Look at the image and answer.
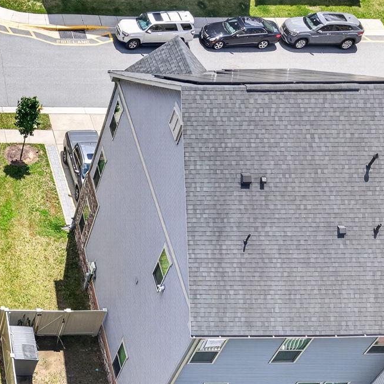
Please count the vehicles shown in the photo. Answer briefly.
four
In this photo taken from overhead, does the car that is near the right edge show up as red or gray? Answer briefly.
gray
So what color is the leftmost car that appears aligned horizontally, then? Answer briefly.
white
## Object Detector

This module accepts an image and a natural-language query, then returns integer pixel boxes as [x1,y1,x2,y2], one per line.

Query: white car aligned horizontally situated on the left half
[105,2,197,47]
